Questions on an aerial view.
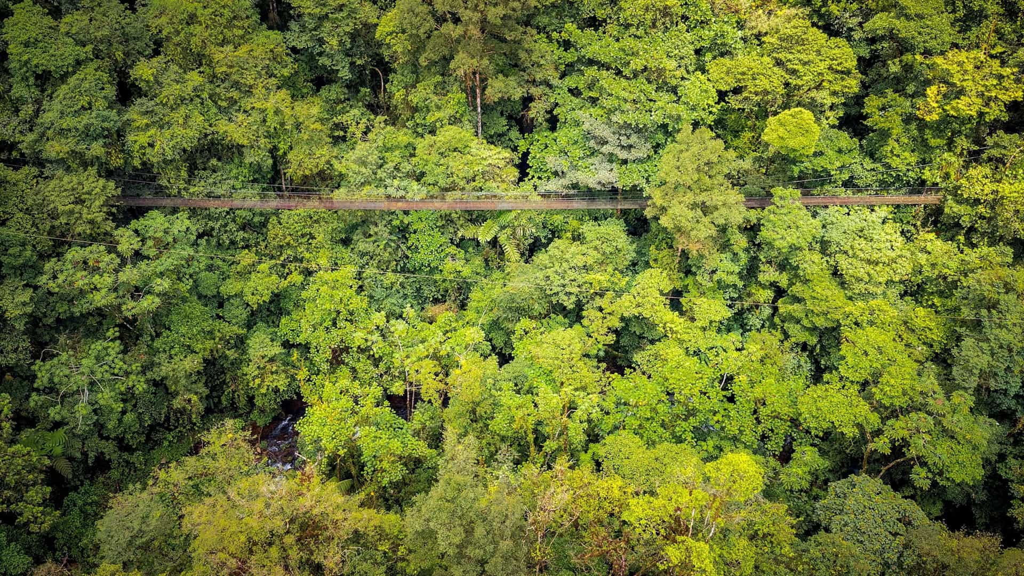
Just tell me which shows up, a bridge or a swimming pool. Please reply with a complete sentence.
Of the two, only a bridge appears.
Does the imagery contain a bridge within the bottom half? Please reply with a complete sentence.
No, no bridge can be made out within the bottom half.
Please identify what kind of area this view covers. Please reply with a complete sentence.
This image shows a forest.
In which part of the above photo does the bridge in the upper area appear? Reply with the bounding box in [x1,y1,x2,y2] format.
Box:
[6,155,1013,212]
